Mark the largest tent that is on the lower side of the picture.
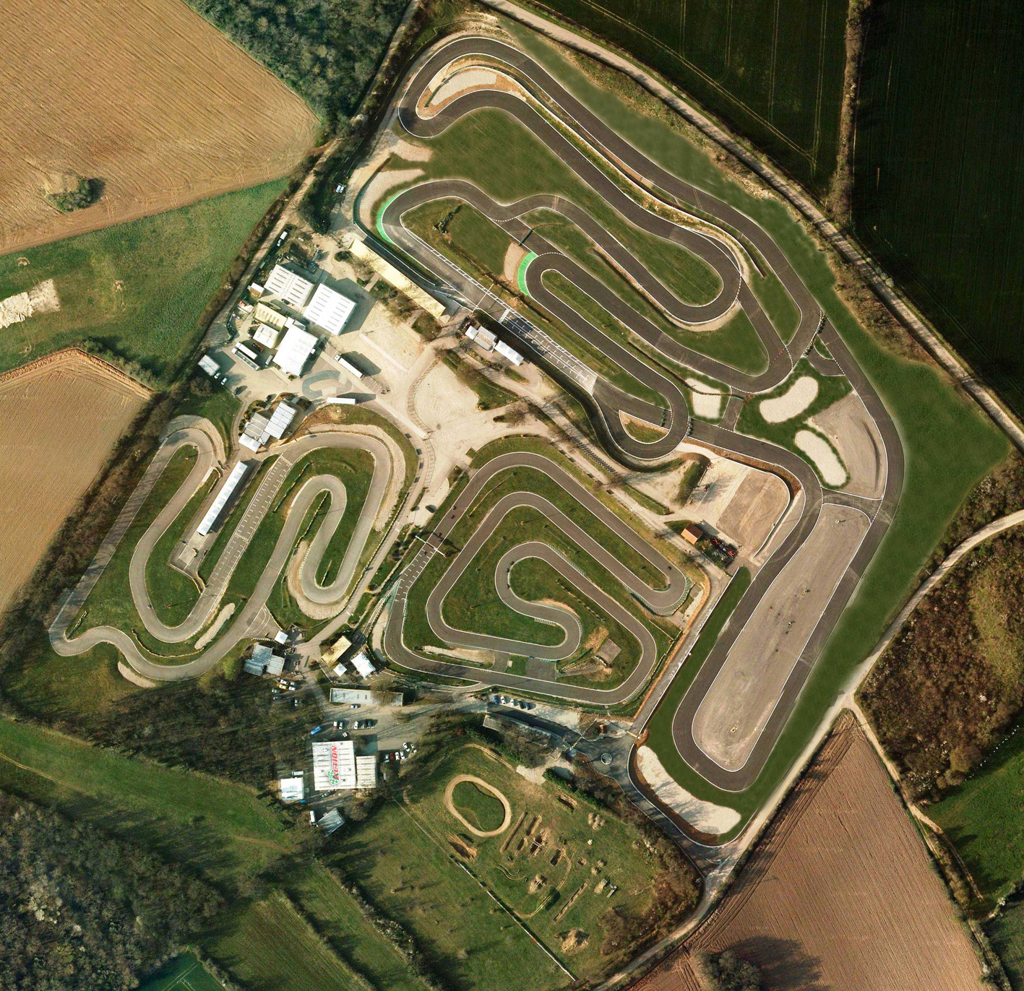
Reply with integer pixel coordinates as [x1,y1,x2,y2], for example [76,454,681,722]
[351,652,375,680]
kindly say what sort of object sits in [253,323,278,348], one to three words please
house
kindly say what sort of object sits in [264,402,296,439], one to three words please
building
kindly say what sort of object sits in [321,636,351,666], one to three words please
building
